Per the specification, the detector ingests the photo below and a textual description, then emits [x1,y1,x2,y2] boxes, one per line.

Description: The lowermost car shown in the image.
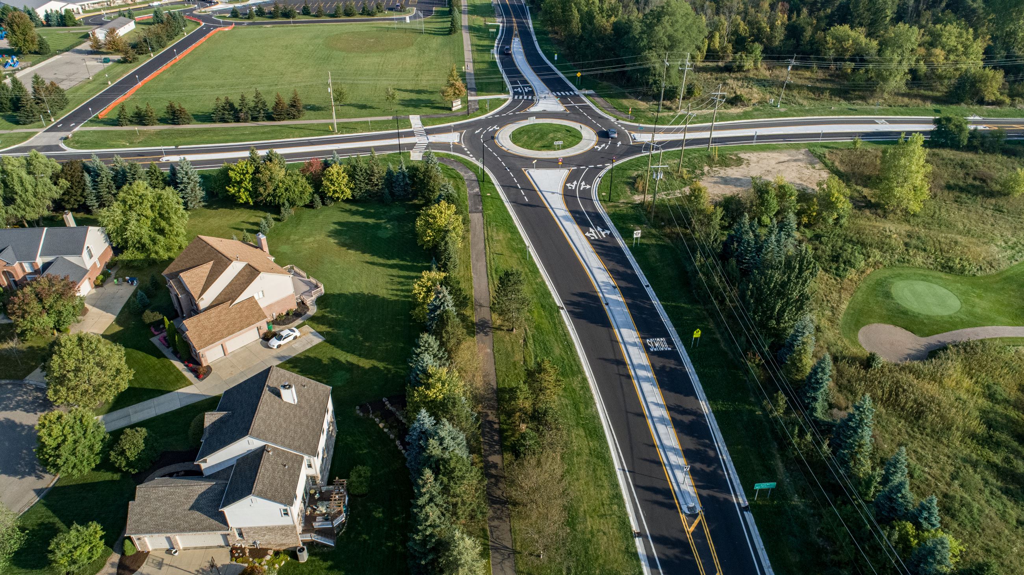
[264,326,301,348]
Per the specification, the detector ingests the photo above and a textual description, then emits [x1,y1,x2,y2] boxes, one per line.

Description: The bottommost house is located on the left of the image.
[124,364,335,553]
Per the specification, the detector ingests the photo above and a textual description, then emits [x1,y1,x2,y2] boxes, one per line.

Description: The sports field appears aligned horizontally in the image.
[0,0,509,155]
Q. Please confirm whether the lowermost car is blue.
No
